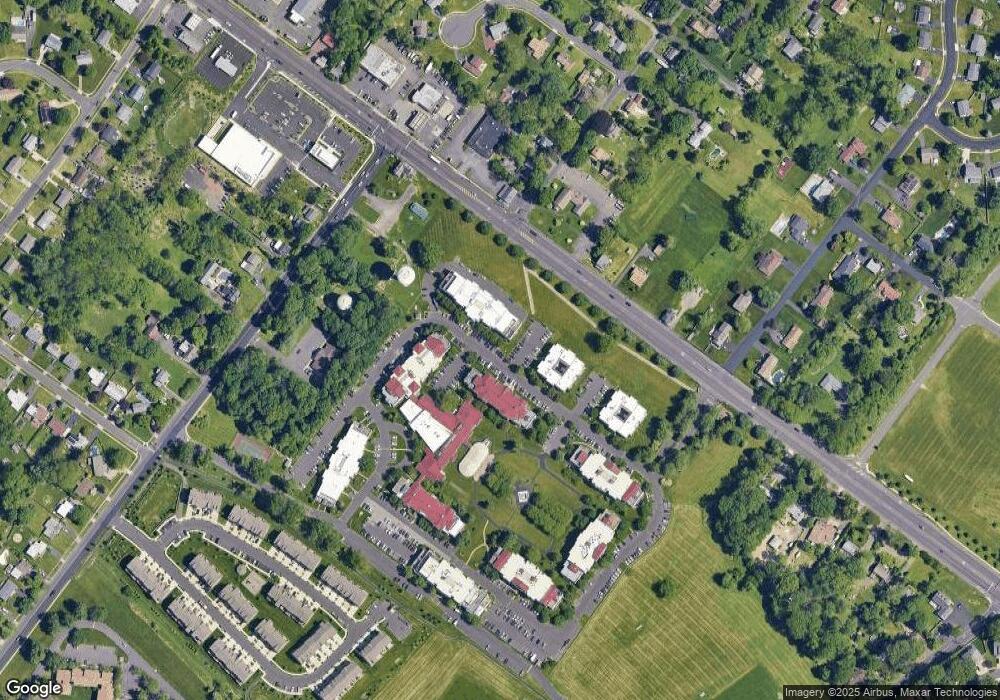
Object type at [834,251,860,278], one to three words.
house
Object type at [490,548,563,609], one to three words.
building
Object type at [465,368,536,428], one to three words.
building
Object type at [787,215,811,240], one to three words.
house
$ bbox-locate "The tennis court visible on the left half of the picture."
[231,432,271,463]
